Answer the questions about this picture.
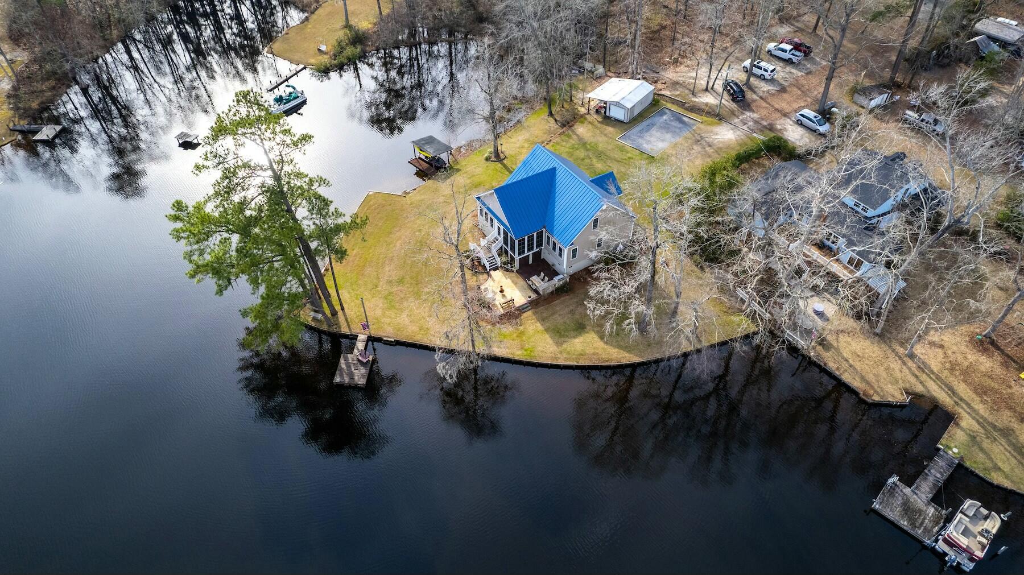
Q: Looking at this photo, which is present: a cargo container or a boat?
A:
boat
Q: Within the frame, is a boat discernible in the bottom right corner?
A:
Yes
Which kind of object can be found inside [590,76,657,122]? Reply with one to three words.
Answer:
building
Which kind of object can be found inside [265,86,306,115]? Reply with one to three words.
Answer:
boat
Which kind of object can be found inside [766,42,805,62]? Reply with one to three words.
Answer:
vehicle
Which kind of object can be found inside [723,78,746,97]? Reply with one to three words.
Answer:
car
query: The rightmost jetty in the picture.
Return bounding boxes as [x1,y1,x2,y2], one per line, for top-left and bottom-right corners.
[870,444,963,542]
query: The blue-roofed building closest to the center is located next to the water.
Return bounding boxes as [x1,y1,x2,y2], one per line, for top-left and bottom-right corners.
[472,143,637,292]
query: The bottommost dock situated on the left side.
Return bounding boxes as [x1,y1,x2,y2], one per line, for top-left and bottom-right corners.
[333,335,373,387]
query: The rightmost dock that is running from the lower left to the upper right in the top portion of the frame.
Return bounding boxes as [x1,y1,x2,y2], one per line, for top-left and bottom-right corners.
[263,64,307,94]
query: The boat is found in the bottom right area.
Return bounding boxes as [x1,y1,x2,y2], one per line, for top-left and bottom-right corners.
[932,495,1003,575]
